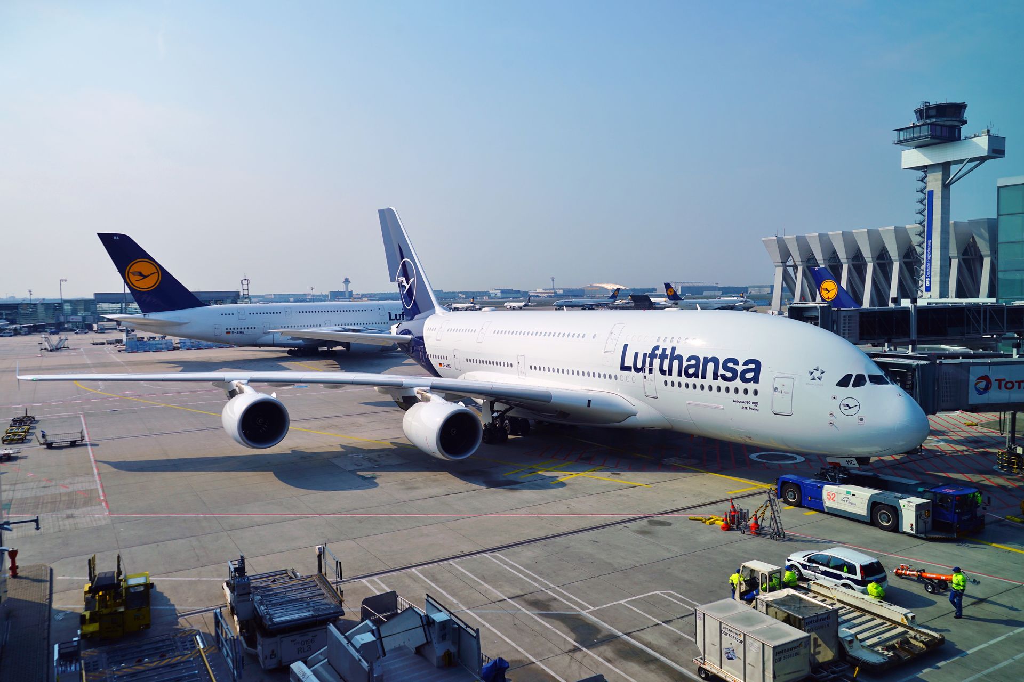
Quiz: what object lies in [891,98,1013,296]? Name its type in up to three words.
building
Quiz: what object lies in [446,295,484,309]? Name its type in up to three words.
airplane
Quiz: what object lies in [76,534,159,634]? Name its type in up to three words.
work vehicle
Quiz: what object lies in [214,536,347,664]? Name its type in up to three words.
work vehicle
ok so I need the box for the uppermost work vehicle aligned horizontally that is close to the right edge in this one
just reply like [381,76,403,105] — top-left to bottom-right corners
[774,469,1010,545]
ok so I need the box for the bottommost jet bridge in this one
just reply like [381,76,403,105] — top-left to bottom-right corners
[869,357,1024,473]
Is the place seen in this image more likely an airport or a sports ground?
airport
